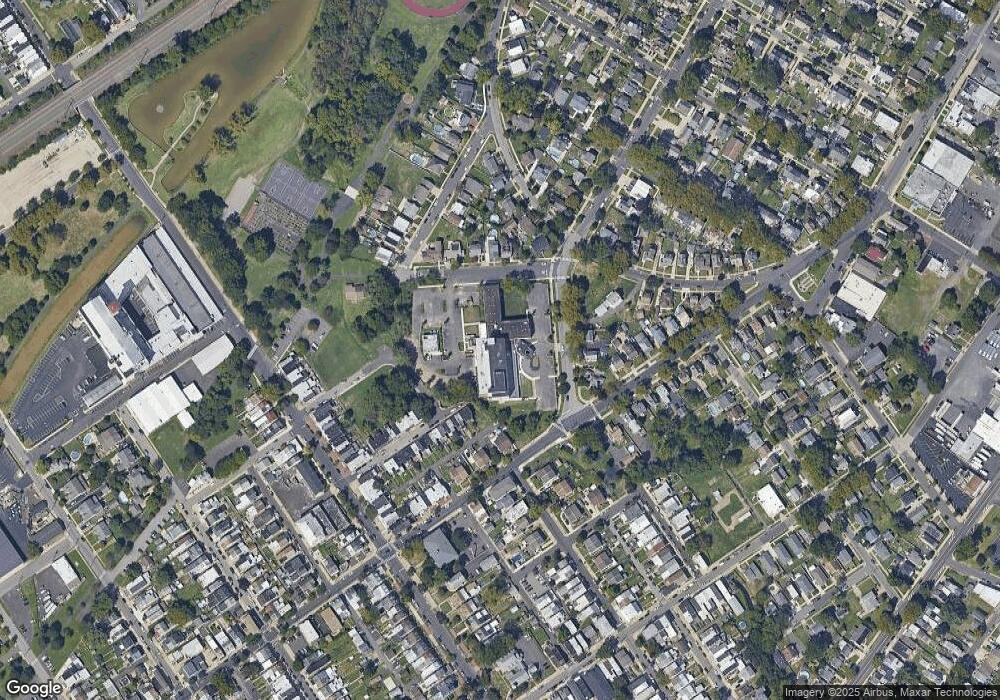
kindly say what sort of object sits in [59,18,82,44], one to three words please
house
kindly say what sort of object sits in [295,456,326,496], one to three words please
building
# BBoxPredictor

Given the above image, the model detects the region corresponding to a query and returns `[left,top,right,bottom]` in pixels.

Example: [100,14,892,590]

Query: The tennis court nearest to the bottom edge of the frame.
[240,192,309,255]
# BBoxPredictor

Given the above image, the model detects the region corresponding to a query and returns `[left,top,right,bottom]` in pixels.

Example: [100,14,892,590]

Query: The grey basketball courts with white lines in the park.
[263,161,327,219]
